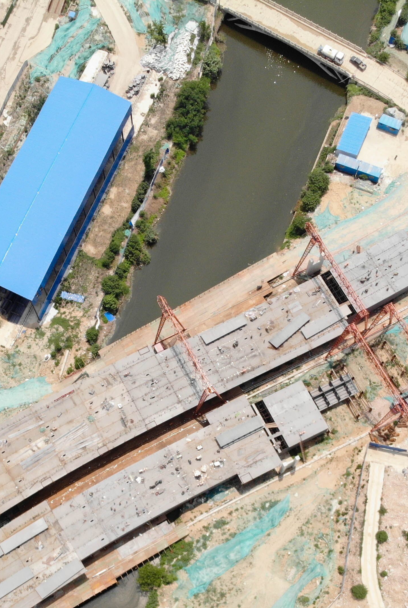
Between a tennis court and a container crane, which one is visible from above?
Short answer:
container crane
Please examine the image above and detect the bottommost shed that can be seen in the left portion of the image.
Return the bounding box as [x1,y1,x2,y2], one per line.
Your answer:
[0,75,139,346]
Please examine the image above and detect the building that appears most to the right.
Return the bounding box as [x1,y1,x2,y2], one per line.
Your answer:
[377,114,402,136]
